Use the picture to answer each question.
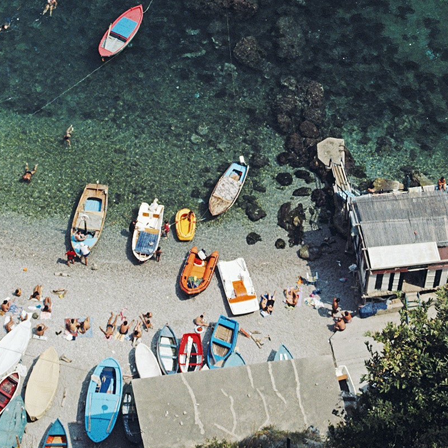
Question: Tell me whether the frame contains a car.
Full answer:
No, I can see no car in this picture.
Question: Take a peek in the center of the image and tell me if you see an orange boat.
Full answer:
Yes, an orange boat is visible in the center of the image.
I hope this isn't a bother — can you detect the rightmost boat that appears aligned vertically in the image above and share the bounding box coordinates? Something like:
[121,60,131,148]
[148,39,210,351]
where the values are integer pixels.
[336,367,355,413]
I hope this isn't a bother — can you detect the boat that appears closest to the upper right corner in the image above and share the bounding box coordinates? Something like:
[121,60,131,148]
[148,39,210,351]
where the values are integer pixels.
[209,151,246,214]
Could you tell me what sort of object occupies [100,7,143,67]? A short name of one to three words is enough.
boat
